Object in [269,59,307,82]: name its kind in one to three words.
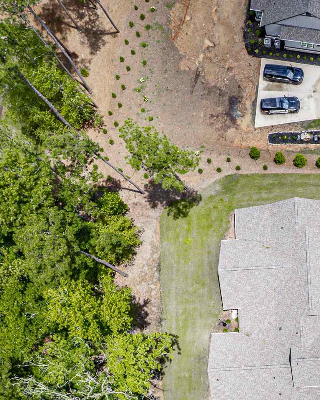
car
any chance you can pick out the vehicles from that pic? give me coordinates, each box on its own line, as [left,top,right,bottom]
[269,59,307,82]
[262,96,298,115]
